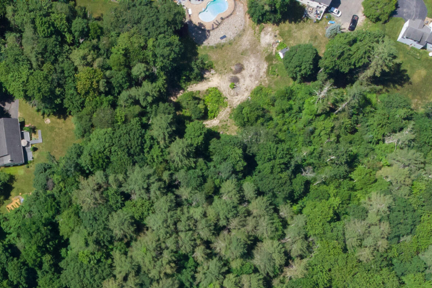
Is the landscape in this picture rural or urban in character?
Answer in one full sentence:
The land in this view is best described as rural.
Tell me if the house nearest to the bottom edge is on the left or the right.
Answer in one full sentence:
It is on the left.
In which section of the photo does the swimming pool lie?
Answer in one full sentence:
The swimming pool is located in the top region of the scene.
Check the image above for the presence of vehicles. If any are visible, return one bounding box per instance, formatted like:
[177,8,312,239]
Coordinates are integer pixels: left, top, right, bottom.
[330,6,342,17]
[349,14,359,31]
